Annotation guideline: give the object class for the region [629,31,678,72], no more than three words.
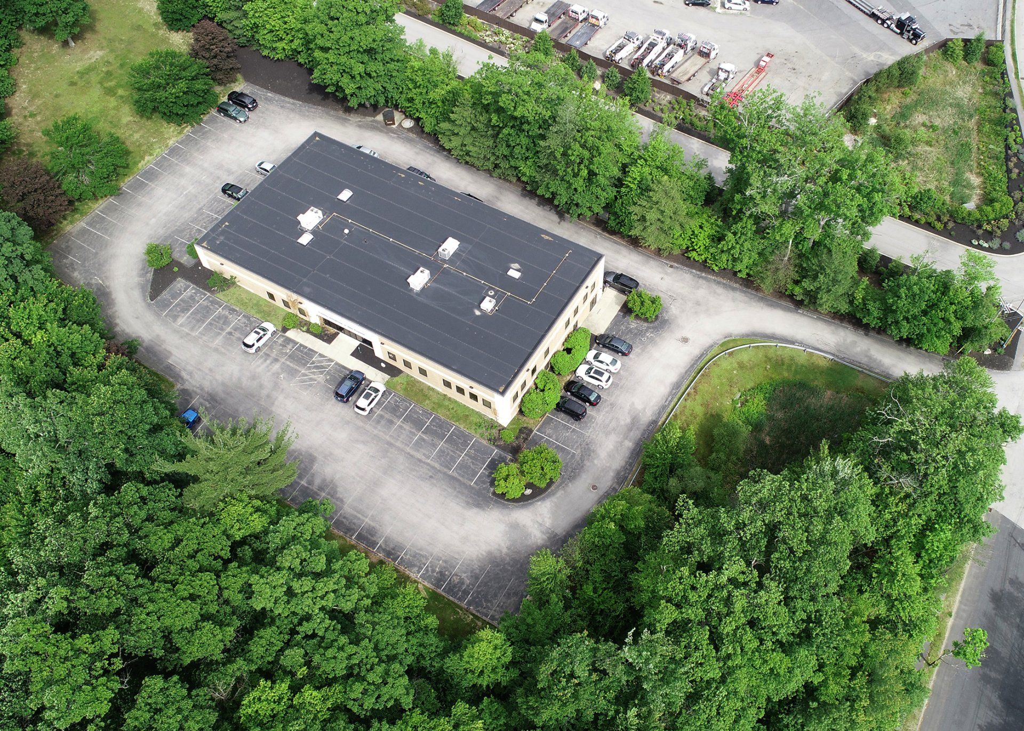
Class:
truck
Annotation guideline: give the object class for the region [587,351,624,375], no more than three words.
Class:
car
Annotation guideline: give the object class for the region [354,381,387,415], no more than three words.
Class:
car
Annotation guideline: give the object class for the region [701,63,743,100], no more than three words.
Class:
vehicle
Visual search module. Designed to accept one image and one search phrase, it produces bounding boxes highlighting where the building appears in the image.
[194,131,606,427]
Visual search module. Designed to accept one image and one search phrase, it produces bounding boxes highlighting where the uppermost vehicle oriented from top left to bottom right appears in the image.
[859,0,931,44]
